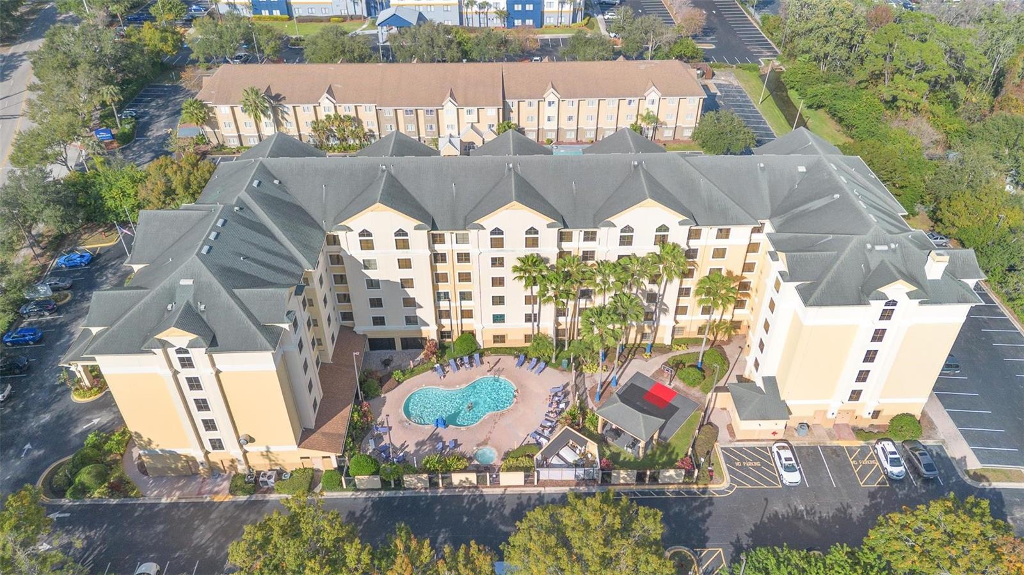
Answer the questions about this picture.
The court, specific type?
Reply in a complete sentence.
In the photo, the court shows up as a basketball court.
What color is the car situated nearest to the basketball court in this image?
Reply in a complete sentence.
The color of the car situated nearest to the basketball court is white.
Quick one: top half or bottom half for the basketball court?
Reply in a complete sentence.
The basketball court sits in the bottom half of the picture.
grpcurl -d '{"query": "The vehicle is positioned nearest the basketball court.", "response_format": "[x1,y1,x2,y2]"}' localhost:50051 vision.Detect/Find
[770,443,802,484]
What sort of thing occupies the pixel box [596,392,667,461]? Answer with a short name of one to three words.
building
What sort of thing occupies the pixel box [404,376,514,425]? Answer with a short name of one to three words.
swimming pool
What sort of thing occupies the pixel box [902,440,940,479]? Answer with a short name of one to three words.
car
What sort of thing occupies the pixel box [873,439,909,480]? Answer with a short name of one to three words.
car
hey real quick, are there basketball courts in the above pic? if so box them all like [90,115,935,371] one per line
[606,371,697,447]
